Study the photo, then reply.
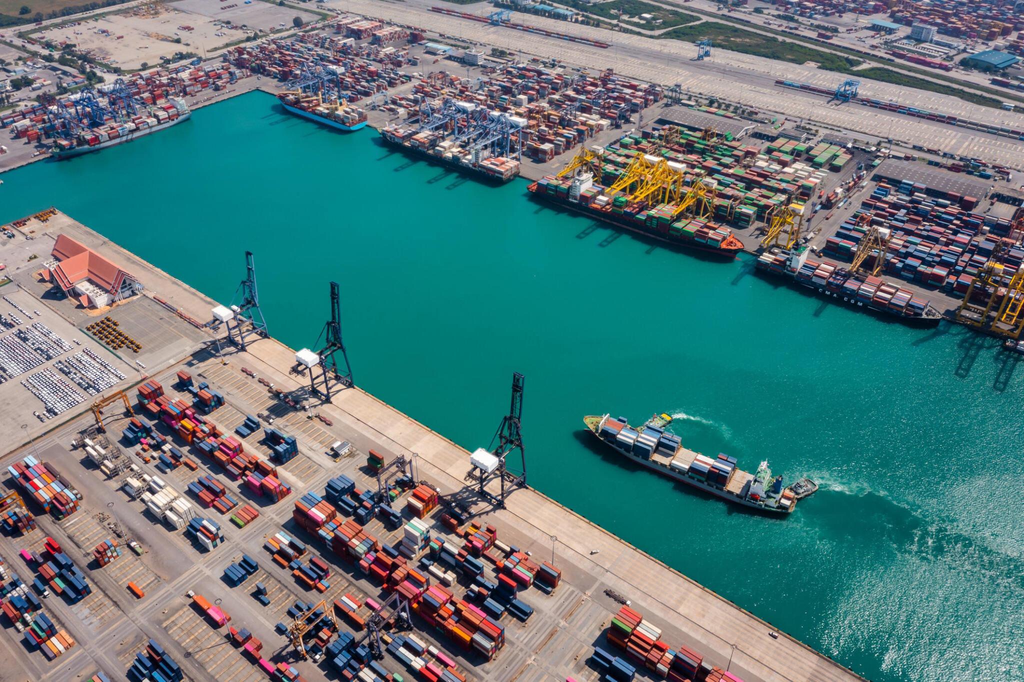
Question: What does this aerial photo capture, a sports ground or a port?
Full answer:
The area seen from above is a port.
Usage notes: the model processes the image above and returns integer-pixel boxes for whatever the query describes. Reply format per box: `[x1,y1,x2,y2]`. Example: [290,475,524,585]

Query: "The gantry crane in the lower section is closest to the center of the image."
[463,371,527,506]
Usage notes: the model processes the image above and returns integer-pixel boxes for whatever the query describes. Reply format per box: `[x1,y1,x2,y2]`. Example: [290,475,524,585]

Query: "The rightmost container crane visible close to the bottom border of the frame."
[368,595,417,656]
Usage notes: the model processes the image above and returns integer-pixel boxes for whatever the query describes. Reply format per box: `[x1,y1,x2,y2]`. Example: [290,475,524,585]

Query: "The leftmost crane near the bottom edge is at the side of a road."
[290,597,342,658]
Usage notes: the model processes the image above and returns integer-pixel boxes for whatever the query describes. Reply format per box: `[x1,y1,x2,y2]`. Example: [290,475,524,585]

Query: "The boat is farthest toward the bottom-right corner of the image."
[790,477,825,499]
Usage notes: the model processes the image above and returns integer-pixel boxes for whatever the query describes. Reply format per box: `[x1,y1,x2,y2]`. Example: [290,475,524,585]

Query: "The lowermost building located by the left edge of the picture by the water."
[31,233,139,308]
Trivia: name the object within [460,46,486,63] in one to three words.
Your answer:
building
